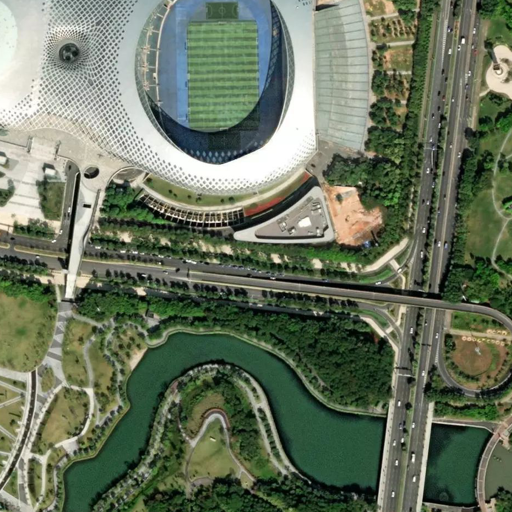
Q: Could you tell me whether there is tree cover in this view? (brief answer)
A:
Yes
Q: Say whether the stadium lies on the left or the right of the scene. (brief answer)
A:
left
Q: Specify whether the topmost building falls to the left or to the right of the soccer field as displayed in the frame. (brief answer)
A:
to the right of it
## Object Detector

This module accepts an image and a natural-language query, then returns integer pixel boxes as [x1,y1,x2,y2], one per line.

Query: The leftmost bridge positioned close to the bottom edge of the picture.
[378,402,434,512]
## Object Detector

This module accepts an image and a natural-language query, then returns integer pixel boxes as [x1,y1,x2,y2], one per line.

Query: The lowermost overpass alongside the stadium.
[175,269,512,394]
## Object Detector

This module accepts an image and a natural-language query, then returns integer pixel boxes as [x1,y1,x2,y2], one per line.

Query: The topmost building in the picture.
[315,0,368,151]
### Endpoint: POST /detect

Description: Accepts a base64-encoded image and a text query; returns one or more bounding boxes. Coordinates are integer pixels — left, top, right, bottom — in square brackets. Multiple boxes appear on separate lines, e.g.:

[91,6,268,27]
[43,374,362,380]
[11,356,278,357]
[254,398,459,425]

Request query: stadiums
[0,0,316,192]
